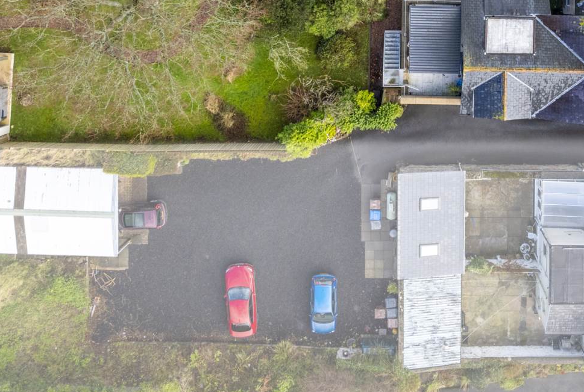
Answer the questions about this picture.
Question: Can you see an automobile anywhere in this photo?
Yes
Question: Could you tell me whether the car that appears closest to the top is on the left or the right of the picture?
left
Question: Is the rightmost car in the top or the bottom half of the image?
bottom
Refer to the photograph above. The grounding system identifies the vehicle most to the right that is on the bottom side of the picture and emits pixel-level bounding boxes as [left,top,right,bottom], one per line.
[307,272,339,332]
